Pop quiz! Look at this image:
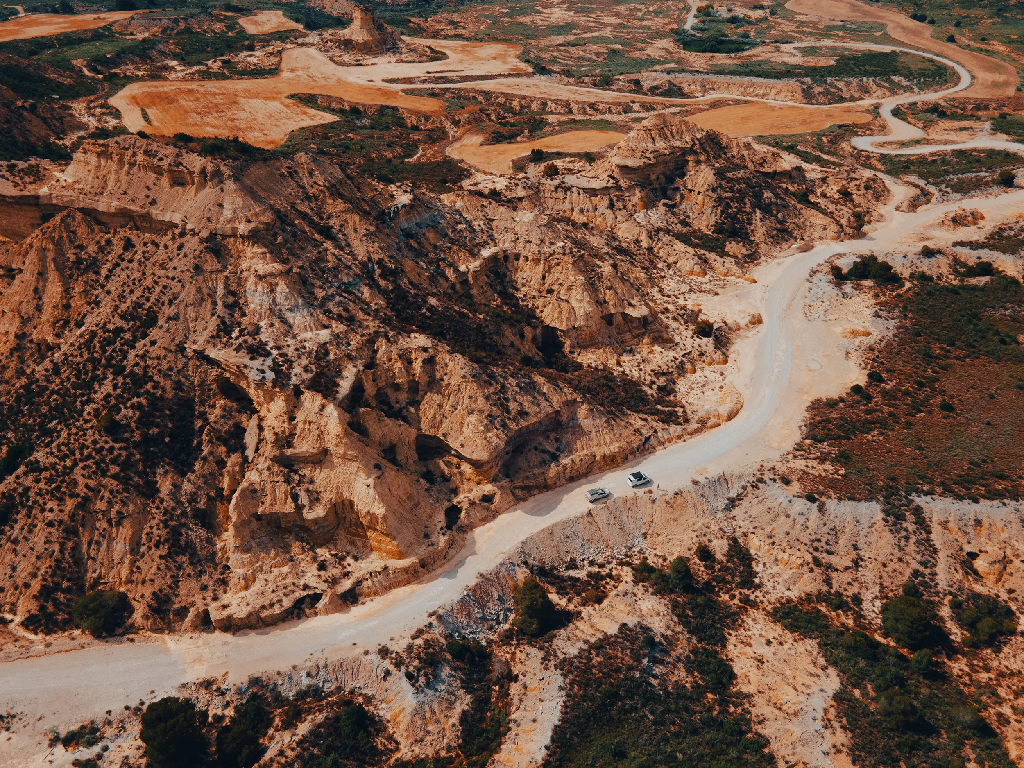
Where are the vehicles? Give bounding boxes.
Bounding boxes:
[627,471,651,487]
[586,487,611,501]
